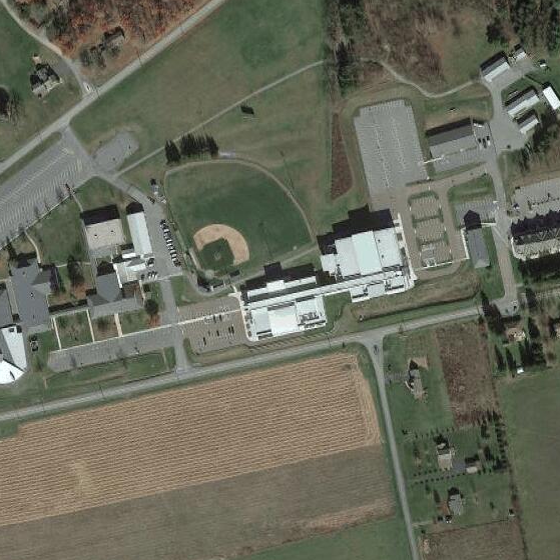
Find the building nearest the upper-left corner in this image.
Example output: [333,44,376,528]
[32,69,60,96]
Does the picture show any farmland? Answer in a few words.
Yes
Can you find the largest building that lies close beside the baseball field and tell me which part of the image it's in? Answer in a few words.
center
